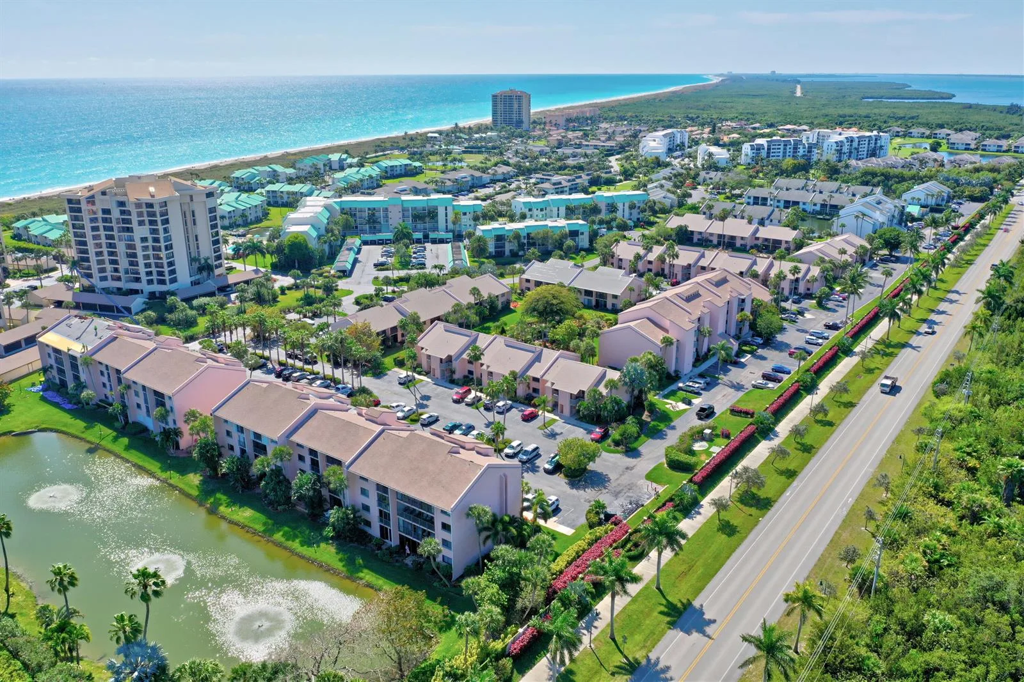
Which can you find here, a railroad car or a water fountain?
water fountain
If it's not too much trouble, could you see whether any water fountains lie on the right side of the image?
No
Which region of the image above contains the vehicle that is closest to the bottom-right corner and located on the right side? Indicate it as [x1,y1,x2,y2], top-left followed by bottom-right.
[883,375,901,391]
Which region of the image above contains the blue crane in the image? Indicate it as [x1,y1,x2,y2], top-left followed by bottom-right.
[75,264,152,328]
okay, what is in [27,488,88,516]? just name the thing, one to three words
fountain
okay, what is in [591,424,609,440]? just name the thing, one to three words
car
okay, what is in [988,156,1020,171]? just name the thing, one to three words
house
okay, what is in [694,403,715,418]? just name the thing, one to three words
vehicle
